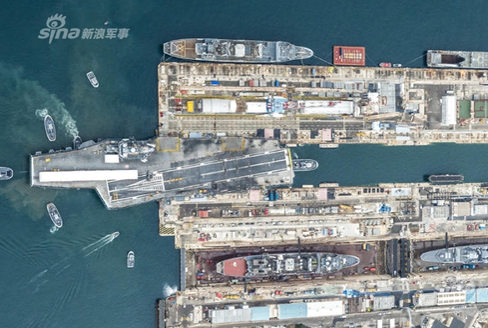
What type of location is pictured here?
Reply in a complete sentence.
This image shows a port.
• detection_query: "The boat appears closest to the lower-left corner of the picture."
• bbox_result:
[44,202,64,229]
